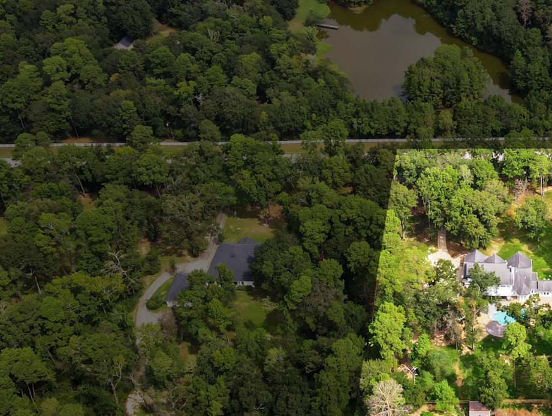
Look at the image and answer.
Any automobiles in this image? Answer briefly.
No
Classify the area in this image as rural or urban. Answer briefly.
rural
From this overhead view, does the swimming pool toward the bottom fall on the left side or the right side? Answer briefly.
right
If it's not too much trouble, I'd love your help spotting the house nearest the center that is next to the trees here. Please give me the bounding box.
[204,234,269,288]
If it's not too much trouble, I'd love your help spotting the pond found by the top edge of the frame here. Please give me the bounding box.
[316,0,533,114]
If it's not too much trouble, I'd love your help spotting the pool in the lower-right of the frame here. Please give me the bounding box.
[490,306,526,327]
